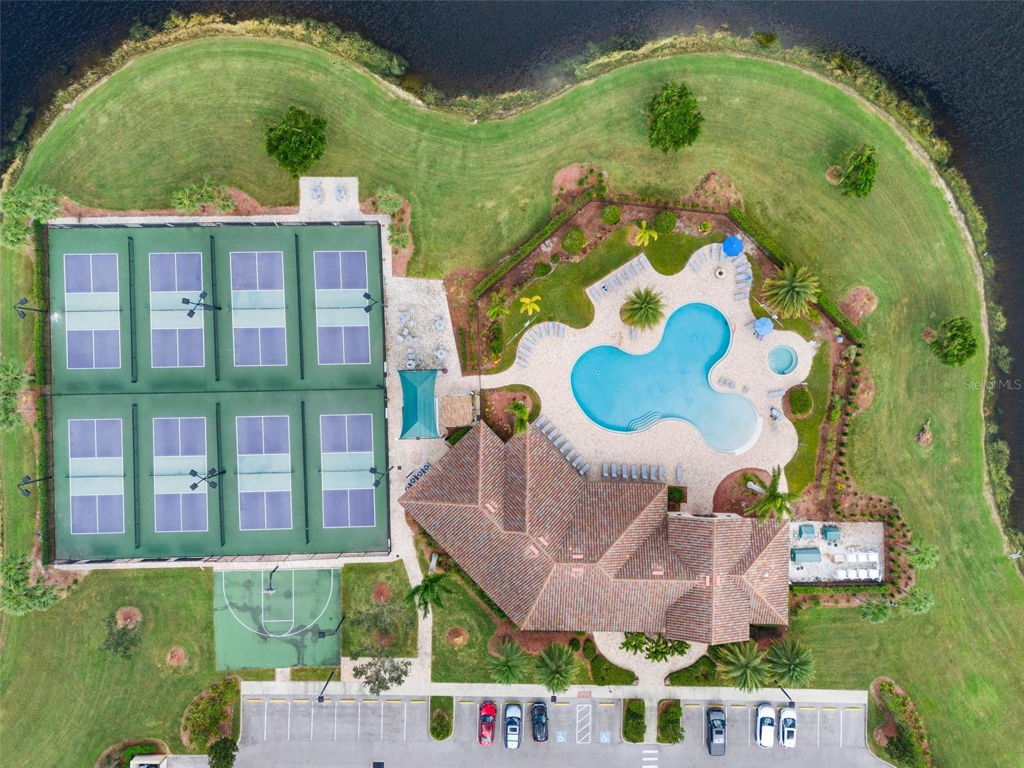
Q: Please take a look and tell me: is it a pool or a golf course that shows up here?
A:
pool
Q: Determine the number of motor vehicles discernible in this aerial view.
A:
six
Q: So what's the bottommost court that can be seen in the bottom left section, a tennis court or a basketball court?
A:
basketball court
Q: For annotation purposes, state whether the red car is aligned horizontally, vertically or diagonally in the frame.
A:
vertically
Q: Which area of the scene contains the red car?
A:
bottom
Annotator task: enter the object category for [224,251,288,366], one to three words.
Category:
sports court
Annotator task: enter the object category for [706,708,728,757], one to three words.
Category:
truck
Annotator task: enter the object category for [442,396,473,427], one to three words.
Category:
shed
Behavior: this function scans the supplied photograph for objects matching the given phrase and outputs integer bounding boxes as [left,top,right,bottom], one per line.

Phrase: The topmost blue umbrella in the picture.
[721,236,743,257]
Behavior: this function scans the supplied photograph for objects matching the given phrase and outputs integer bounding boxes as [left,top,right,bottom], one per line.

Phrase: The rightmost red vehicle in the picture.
[478,701,498,747]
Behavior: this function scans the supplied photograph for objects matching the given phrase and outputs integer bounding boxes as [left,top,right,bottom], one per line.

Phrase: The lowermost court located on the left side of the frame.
[213,567,341,670]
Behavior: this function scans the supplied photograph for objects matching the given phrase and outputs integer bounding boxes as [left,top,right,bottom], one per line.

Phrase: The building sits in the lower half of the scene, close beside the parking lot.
[398,420,790,645]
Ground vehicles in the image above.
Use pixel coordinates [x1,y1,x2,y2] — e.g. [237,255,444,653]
[706,708,728,757]
[778,708,800,749]
[755,704,778,748]
[478,701,498,747]
[503,703,524,750]
[530,702,550,743]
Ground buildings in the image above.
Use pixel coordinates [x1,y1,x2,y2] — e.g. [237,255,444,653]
[442,396,473,427]
[398,420,790,645]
